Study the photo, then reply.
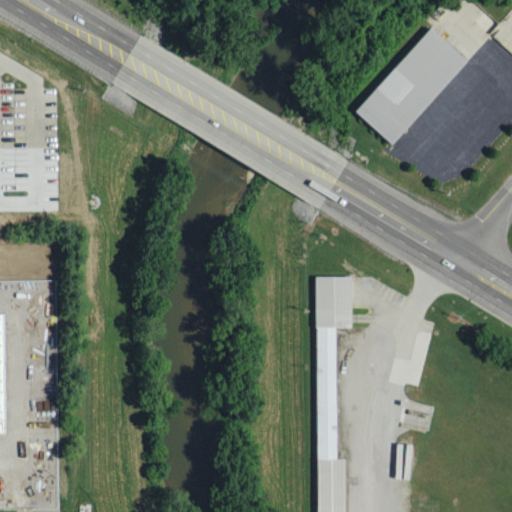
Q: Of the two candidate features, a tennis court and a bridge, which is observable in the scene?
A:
bridge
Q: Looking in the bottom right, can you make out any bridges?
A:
No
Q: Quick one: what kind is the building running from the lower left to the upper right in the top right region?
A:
warehouse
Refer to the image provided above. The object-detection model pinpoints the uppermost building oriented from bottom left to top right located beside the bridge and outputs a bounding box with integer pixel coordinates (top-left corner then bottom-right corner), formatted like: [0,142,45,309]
[356,27,468,144]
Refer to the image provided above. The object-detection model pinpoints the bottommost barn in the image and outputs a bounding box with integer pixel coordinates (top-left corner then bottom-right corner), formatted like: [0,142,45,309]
[317,460,347,512]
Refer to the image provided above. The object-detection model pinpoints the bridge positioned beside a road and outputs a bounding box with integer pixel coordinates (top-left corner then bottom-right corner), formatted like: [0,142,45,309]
[112,36,349,209]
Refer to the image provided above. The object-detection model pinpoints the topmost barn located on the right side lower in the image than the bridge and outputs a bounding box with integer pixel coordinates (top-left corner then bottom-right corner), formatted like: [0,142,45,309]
[316,277,354,328]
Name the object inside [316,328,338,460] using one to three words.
barn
